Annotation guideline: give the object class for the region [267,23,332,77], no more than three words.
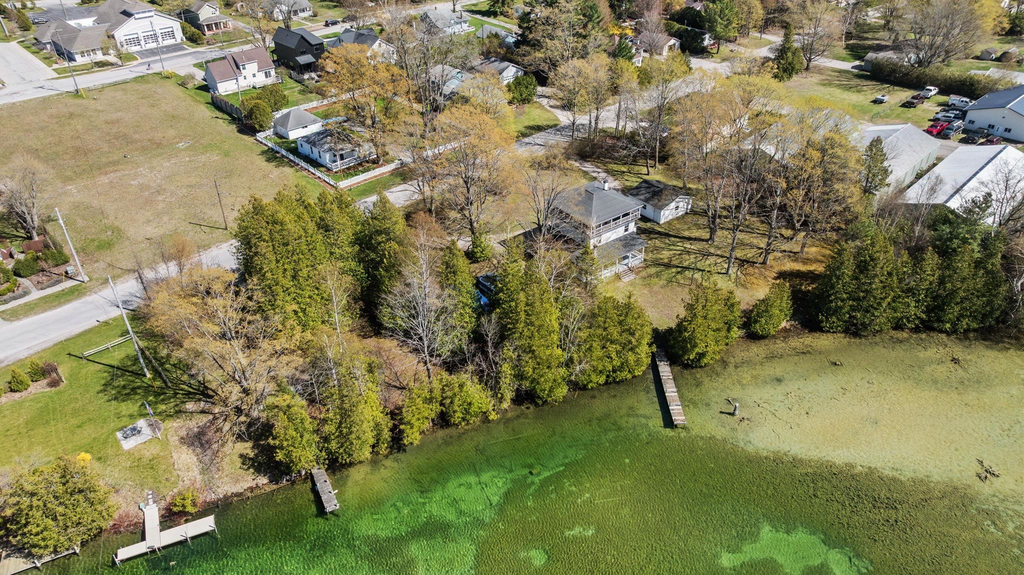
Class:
house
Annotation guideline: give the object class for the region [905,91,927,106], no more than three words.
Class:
vehicle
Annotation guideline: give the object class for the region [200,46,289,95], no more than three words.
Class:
house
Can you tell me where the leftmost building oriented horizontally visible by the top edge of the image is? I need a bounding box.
[32,1,180,62]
